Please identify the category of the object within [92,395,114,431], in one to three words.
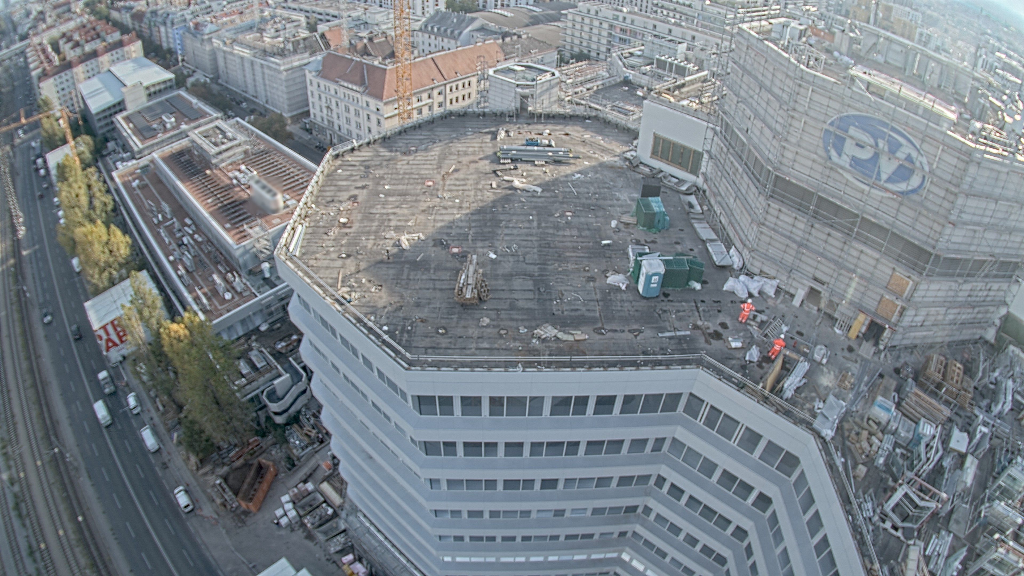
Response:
vehicle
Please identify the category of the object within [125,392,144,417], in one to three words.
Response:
car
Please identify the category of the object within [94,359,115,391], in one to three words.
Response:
vehicle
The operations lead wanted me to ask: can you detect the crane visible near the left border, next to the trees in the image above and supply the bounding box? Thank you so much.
[0,94,91,169]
